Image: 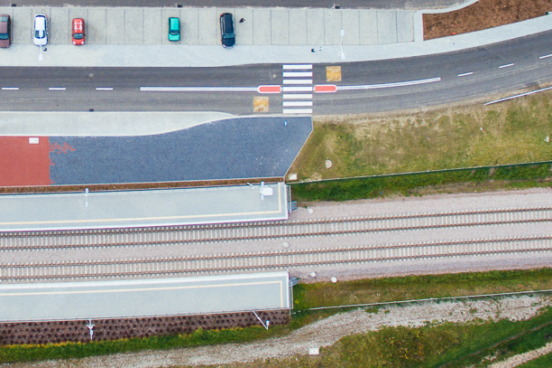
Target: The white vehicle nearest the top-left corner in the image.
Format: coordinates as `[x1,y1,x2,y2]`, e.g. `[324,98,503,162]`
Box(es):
[32,14,49,46]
